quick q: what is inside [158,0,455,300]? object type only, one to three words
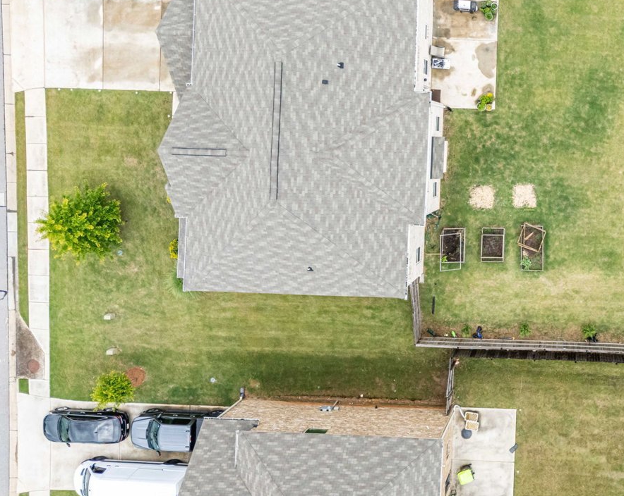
house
